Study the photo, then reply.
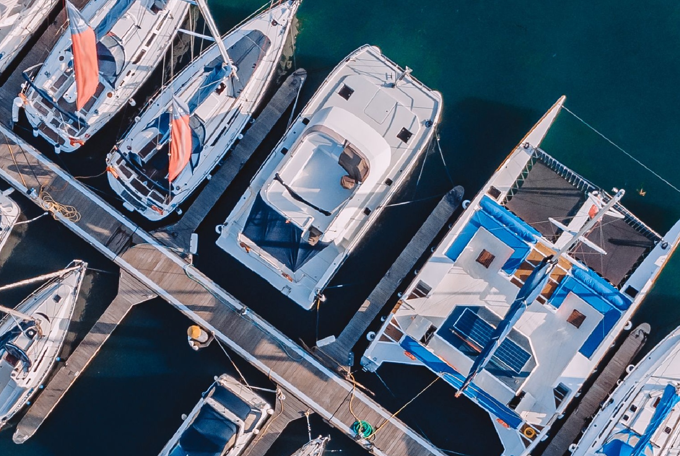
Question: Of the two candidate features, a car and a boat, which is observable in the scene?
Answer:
boat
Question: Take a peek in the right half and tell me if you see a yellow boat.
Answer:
No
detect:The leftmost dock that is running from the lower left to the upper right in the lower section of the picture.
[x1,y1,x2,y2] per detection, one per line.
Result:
[13,267,158,443]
